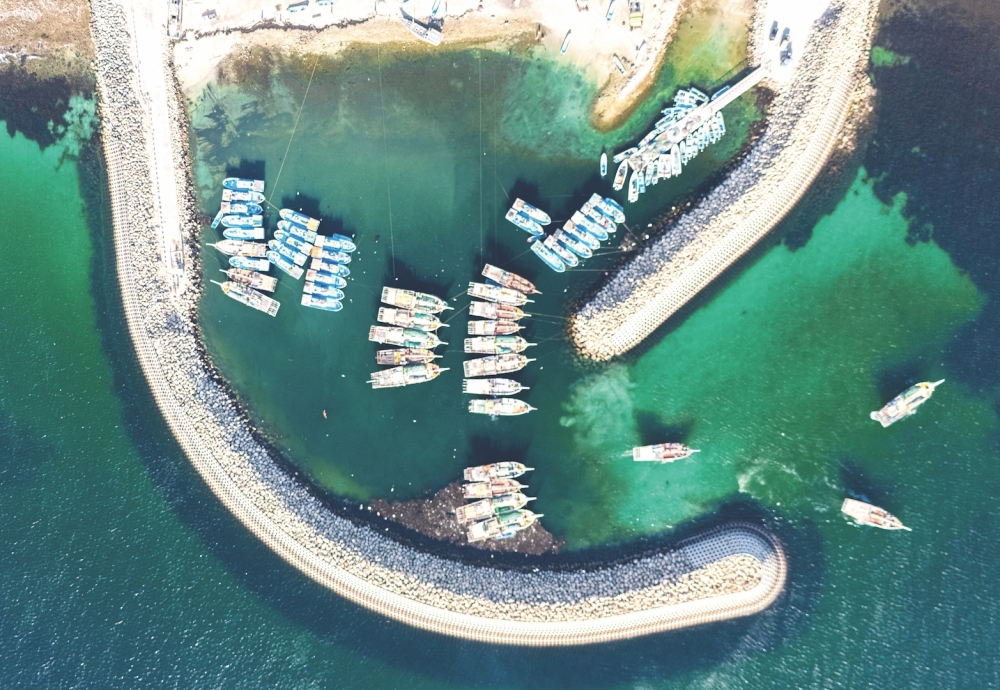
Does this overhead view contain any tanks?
No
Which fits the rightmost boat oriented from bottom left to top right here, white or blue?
white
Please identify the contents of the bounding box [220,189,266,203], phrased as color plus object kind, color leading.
white boat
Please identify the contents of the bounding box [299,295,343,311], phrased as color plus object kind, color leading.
white boat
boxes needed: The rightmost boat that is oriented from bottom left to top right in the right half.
[878,381,944,426]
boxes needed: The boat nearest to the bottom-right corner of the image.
[840,500,912,530]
